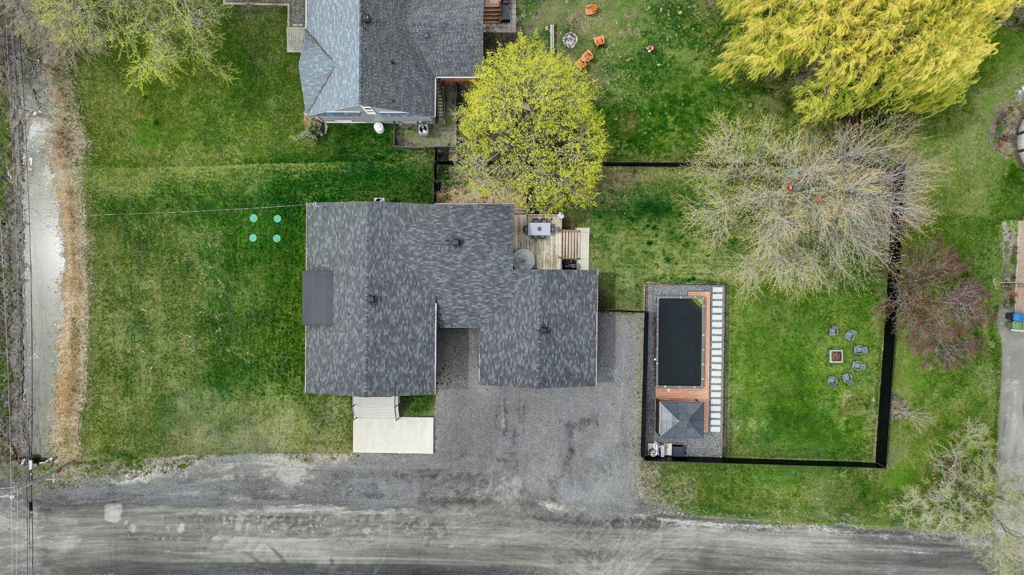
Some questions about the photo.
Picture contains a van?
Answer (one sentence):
No, the picture doesn't show any van.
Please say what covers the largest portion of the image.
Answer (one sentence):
The scene is dominated by grass.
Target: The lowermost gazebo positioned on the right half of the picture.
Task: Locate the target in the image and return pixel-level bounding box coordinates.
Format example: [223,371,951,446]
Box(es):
[655,397,705,438]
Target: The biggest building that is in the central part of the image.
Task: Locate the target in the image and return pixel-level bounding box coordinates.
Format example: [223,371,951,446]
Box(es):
[302,200,599,398]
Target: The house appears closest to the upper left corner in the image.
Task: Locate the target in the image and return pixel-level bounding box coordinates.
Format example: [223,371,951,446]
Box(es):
[298,0,483,126]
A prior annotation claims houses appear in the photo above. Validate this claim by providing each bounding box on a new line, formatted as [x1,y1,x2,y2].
[298,0,483,126]
[302,200,599,398]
